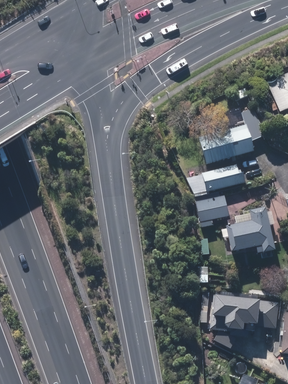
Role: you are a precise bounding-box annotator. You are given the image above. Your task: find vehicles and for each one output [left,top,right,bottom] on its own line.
[242,158,258,166]
[18,252,29,271]
[137,31,153,42]
[134,8,150,19]
[244,168,262,178]
[0,68,12,80]
[34,15,52,28]
[248,6,268,17]
[156,0,172,8]
[165,58,188,74]
[159,22,178,34]
[94,0,108,6]
[0,148,9,167]
[36,62,54,70]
